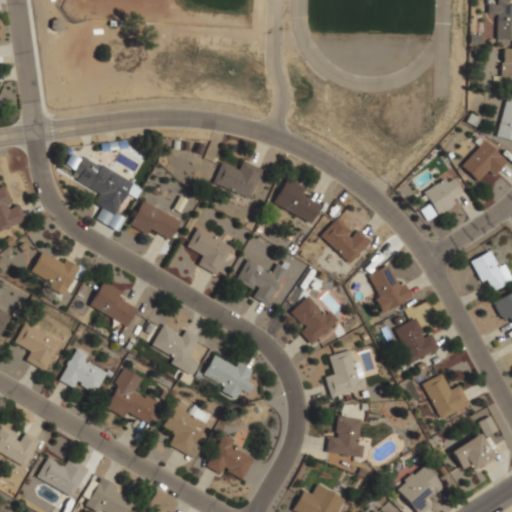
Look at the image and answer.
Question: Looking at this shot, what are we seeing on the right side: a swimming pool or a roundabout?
swimming pool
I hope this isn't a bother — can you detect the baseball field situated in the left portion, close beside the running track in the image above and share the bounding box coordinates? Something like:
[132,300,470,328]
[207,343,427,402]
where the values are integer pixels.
[64,0,252,20]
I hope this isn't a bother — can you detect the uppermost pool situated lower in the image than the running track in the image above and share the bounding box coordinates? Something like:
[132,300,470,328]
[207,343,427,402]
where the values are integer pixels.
[415,172,432,188]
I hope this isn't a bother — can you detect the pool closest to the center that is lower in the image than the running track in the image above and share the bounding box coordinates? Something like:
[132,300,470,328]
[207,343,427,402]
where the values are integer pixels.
[320,292,342,316]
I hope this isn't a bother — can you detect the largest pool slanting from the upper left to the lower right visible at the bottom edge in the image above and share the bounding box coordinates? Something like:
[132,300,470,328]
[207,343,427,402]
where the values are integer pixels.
[36,484,64,508]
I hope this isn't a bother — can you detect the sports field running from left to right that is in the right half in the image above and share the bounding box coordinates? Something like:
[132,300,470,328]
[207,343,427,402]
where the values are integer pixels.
[308,0,434,38]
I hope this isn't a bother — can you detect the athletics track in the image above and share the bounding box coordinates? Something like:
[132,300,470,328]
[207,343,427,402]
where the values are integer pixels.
[292,0,450,98]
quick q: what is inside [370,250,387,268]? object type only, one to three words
camper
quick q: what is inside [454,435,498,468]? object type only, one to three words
house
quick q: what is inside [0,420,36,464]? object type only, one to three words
house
